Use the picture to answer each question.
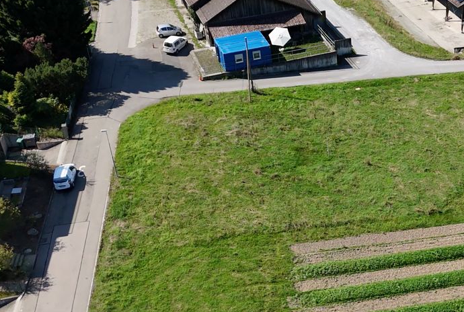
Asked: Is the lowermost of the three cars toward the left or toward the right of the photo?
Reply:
left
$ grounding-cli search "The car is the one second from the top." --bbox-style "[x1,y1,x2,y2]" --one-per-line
[163,36,192,54]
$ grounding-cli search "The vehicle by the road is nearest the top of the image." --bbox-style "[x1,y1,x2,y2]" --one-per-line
[157,22,184,36]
